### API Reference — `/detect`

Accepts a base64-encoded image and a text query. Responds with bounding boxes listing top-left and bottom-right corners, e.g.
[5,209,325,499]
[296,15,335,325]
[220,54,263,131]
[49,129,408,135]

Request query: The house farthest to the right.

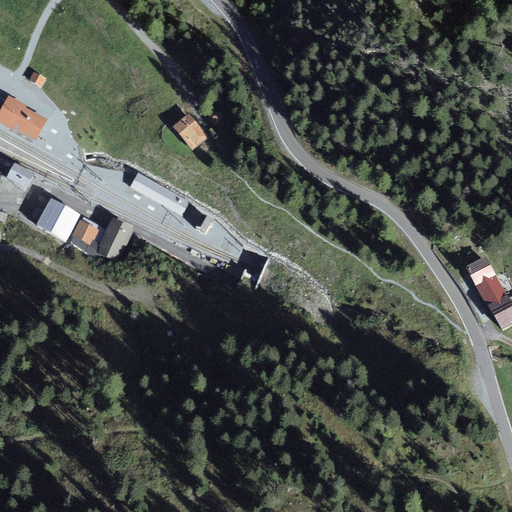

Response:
[466,255,512,329]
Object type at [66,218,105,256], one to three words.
house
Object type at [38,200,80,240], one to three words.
building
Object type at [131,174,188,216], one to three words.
shed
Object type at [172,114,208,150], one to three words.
house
